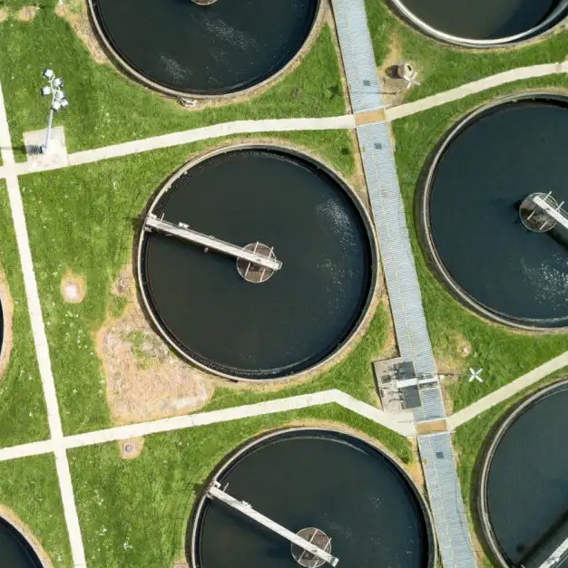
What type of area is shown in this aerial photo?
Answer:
industrial area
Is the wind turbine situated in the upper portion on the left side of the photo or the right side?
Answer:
right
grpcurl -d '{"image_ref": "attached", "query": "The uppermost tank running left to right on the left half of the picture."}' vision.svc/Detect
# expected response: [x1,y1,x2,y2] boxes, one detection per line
[88,0,325,100]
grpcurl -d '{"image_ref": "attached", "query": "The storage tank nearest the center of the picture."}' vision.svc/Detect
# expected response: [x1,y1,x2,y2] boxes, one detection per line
[138,140,381,383]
